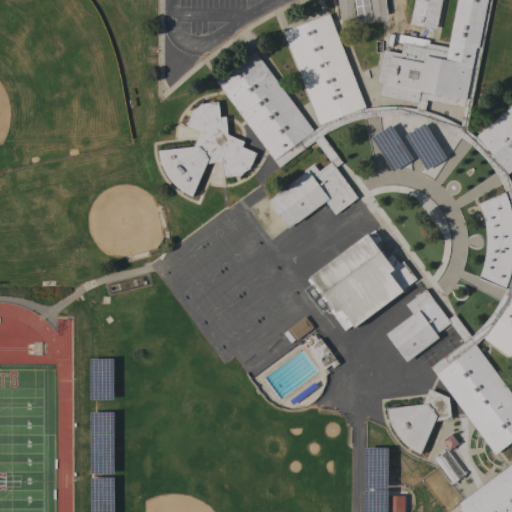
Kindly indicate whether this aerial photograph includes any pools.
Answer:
Yes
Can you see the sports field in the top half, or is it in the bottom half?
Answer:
bottom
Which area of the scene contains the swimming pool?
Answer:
bottom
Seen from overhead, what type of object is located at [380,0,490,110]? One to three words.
building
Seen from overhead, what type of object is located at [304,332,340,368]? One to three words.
building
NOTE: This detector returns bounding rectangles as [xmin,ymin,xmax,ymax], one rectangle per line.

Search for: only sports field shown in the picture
[0,364,58,512]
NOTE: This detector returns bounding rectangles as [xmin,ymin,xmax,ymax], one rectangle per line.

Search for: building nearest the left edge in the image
[159,101,255,196]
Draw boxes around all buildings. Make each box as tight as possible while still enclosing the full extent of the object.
[285,318,314,343]
[159,101,255,196]
[394,496,406,512]
[284,12,366,126]
[462,466,512,512]
[374,0,387,18]
[356,0,372,16]
[340,0,355,20]
[304,332,340,368]
[436,450,468,486]
[270,162,359,227]
[388,290,452,362]
[309,230,418,330]
[486,300,512,358]
[380,0,490,110]
[439,346,512,454]
[388,390,452,455]
[412,0,444,28]
[481,193,512,287]
[222,56,314,159]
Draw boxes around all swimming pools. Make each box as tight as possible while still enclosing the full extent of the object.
[255,338,331,408]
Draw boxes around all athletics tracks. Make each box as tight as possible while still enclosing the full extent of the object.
[0,303,74,512]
